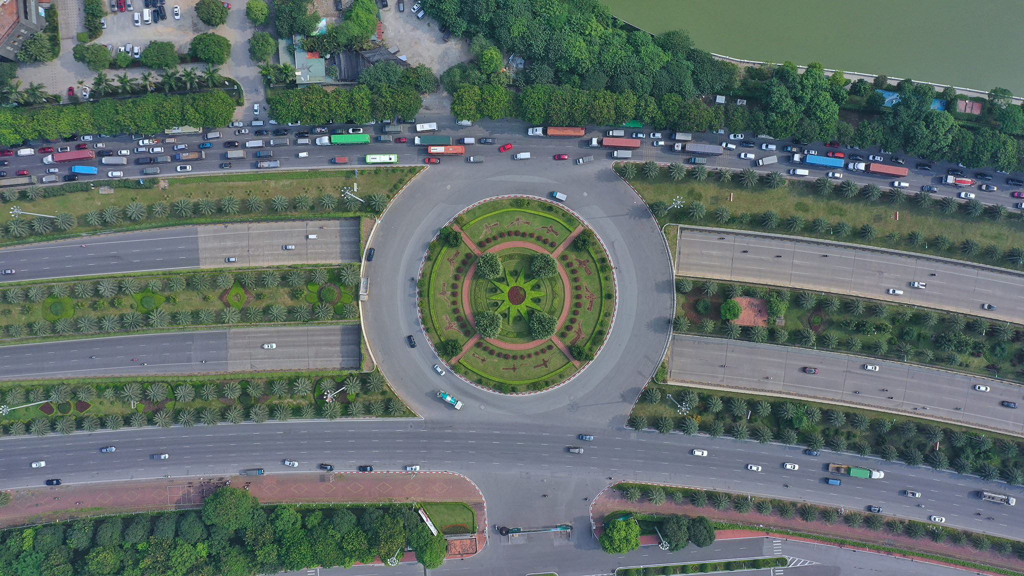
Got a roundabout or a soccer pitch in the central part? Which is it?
roundabout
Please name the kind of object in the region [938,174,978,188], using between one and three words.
vehicle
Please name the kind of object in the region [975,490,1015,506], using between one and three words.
vehicle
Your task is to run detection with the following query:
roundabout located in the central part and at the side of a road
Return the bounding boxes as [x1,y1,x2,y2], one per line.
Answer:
[361,160,673,425]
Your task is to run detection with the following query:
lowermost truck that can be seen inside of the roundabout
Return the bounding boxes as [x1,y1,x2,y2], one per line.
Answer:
[436,389,466,410]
